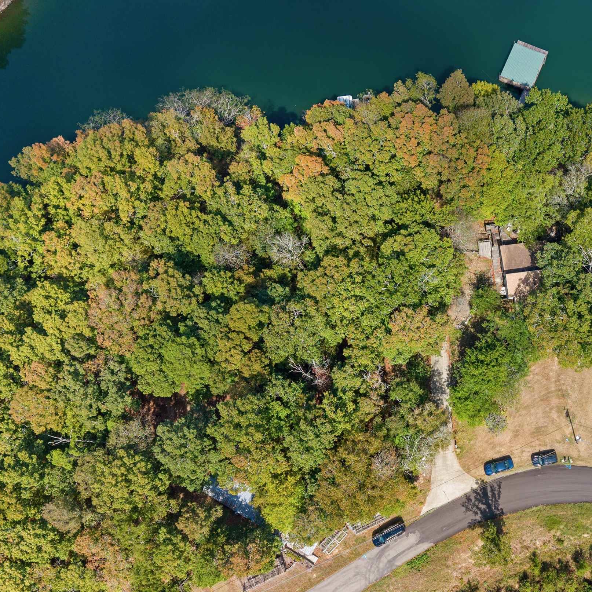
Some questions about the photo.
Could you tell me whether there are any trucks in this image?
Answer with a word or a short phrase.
No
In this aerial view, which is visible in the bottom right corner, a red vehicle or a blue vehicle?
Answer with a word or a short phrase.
blue vehicle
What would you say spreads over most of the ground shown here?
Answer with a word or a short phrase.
trees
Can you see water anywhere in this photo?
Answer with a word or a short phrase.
Yes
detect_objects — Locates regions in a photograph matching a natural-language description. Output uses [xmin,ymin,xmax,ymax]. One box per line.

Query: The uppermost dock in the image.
[500,40,548,91]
